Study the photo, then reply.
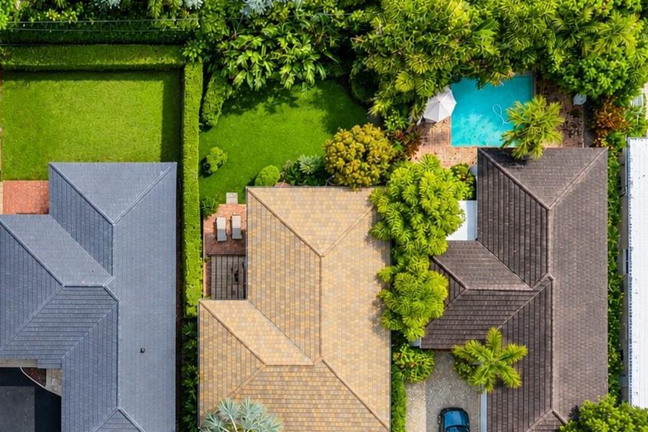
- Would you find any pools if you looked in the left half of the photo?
No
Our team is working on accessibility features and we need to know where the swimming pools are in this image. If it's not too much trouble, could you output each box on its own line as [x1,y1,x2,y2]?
[450,72,535,148]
